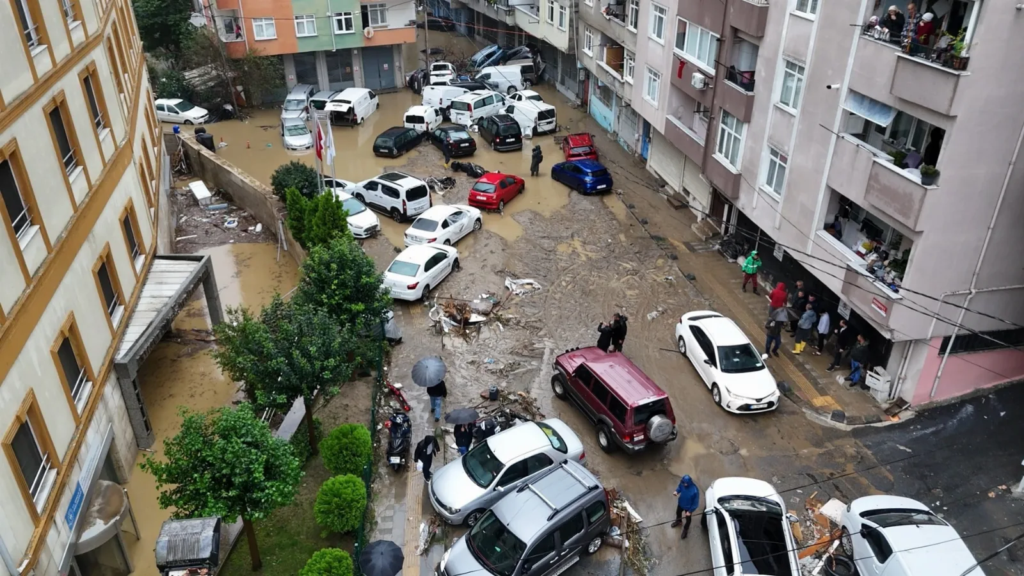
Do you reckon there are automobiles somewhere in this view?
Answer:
Yes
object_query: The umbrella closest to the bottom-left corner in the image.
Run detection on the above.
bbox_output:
[350,541,412,576]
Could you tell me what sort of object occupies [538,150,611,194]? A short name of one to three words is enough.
car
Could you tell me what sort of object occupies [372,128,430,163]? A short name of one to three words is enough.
car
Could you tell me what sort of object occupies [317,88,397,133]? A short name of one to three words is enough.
van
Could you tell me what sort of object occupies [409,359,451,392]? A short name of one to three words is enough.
umbrella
